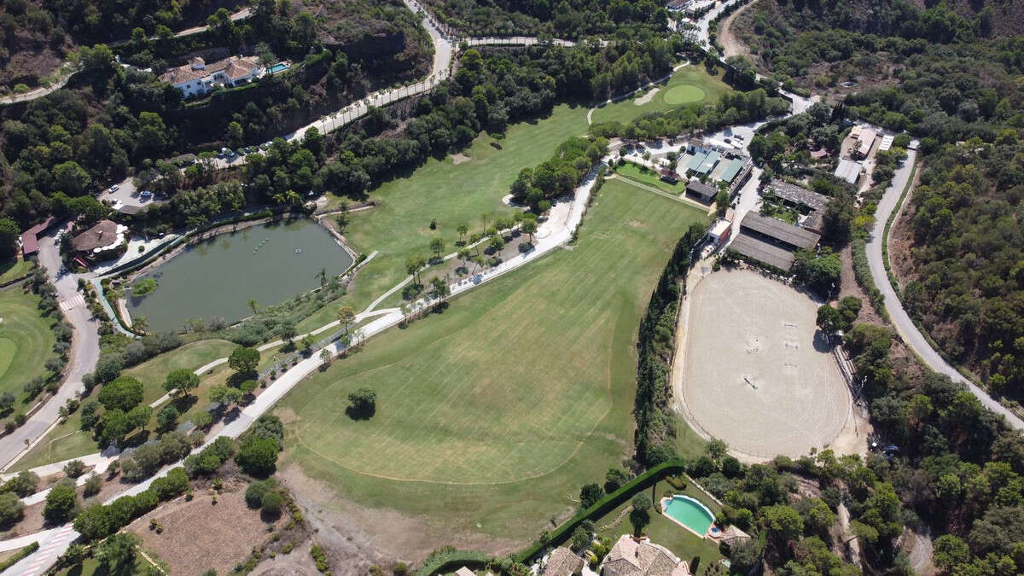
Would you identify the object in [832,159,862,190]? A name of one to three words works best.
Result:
shed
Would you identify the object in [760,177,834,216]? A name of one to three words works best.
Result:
building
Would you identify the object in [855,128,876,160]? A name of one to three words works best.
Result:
shed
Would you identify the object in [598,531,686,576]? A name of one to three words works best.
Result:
house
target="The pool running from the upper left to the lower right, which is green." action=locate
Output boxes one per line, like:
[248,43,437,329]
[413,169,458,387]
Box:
[660,491,716,536]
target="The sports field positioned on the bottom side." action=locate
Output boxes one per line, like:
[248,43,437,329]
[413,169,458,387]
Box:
[277,175,709,566]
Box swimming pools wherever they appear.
[267,62,288,73]
[660,491,716,536]
[707,524,722,537]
